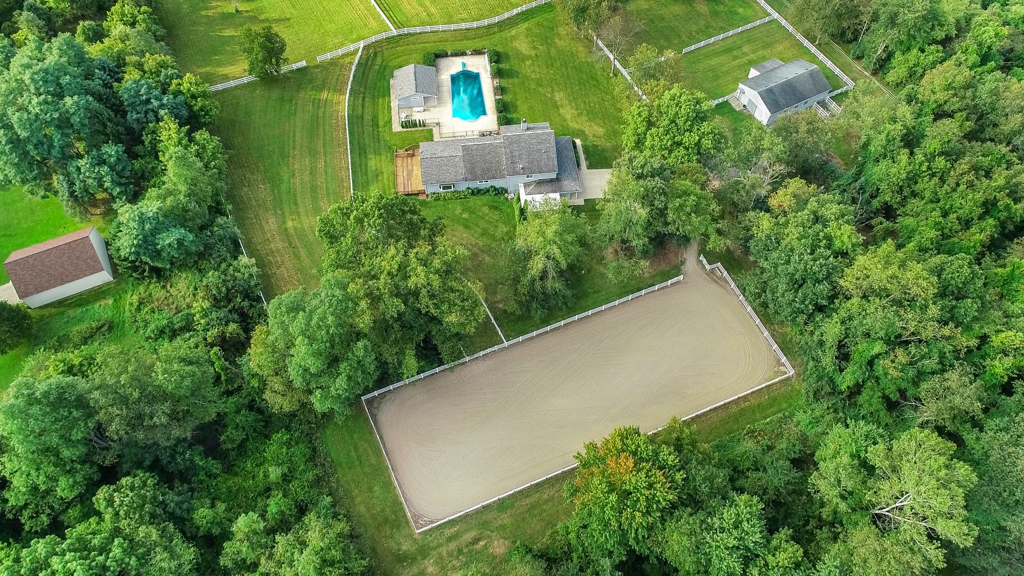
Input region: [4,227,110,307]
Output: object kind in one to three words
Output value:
building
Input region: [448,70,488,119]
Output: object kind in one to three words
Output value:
swimming pool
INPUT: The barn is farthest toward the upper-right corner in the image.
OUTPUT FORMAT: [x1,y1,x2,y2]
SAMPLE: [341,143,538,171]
[734,56,831,124]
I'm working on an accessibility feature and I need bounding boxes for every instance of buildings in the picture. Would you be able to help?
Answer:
[420,119,582,217]
[4,227,110,307]
[734,56,831,124]
[396,63,439,106]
